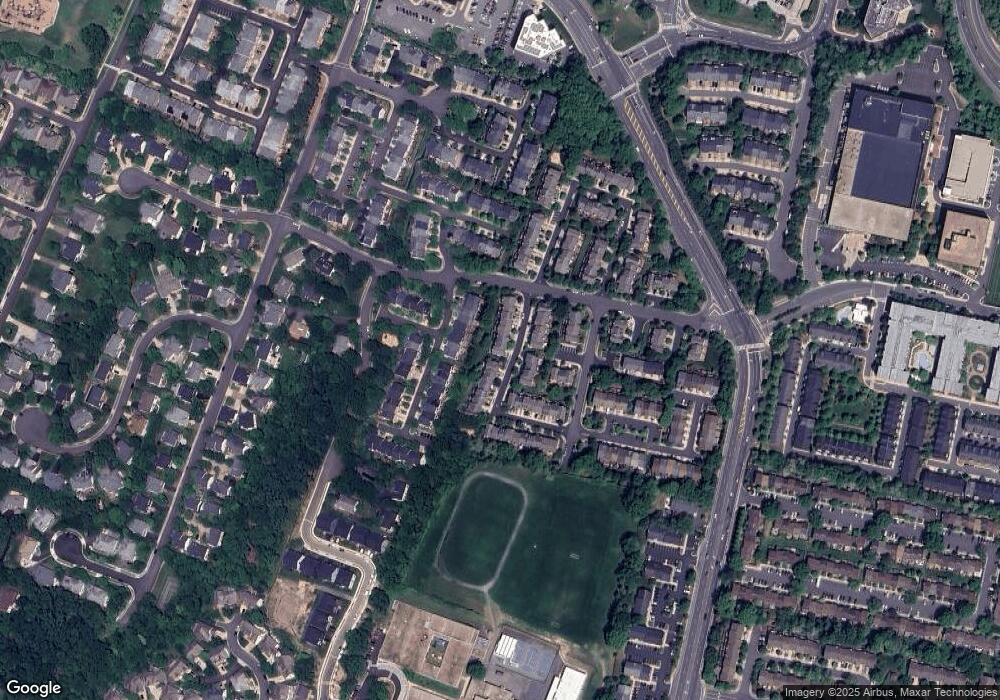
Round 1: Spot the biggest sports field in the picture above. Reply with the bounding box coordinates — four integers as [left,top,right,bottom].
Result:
[408,465,638,644]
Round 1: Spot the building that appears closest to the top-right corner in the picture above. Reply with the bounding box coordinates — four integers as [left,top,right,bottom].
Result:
[864,0,912,41]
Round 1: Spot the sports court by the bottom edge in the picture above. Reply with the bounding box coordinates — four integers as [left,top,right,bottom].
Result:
[512,638,558,680]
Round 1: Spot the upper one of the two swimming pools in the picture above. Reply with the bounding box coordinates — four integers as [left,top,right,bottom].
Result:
[835,305,853,322]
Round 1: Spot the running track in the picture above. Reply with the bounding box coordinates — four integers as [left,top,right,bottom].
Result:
[436,472,527,589]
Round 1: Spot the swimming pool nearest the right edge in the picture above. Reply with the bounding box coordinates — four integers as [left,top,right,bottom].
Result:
[910,342,935,372]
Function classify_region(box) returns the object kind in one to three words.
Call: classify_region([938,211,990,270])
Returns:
building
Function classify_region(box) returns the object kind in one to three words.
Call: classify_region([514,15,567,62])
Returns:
building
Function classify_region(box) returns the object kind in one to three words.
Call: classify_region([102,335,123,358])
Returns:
house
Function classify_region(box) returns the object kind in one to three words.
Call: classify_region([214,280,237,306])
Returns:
house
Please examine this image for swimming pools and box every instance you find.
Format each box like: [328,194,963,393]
[835,305,853,322]
[910,342,935,372]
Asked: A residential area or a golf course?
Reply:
residential area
